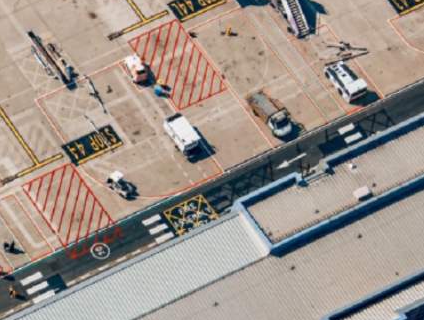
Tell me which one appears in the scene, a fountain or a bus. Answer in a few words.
bus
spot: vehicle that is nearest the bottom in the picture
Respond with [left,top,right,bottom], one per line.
[107,170,135,197]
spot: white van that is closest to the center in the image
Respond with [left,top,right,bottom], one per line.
[161,118,204,160]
